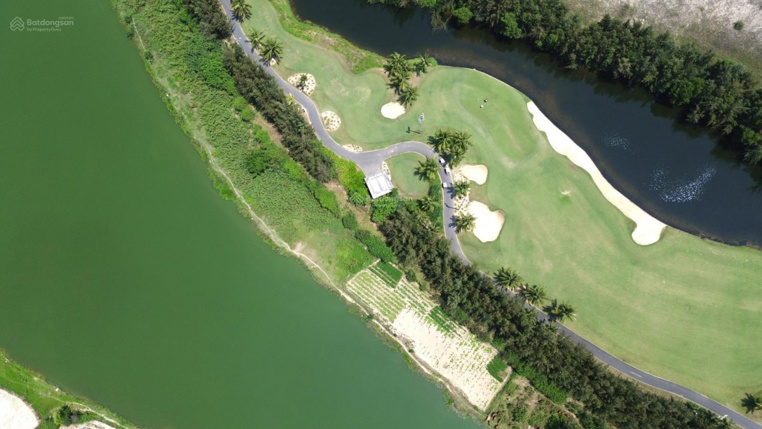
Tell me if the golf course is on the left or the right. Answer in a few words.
right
